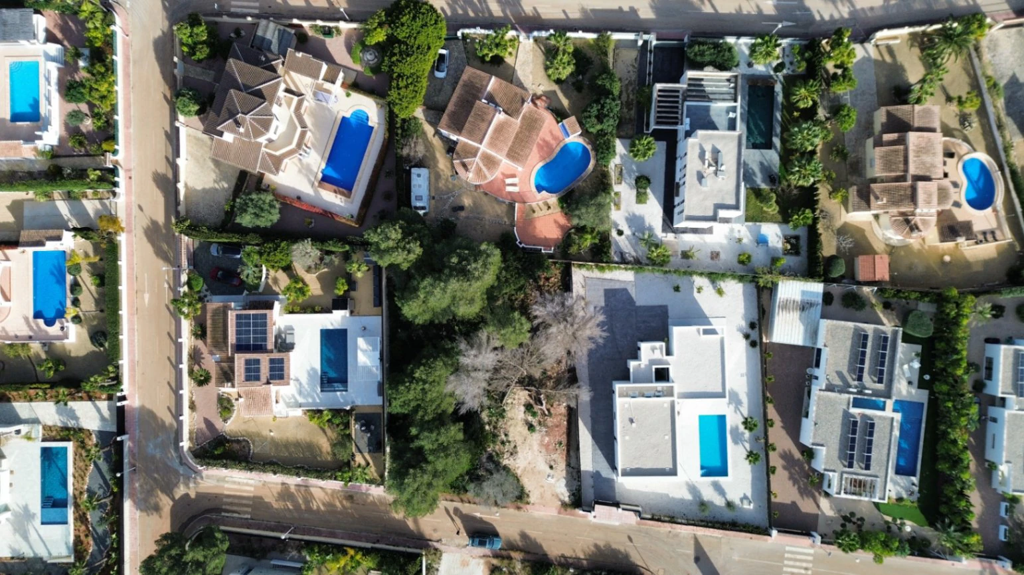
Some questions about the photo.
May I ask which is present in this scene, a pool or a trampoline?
pool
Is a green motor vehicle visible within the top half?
No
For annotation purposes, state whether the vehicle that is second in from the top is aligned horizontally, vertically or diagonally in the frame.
vertically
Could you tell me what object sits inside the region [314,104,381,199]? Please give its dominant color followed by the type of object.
blue swimming pool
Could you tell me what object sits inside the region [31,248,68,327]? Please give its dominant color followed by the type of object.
blue swimming pool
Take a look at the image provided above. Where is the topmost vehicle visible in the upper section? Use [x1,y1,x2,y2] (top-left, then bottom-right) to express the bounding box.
[433,47,449,79]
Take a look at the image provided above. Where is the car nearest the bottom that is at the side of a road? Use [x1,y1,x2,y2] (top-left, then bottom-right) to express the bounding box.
[467,532,502,552]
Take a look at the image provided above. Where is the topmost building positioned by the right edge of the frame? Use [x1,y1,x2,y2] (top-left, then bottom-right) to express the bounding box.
[841,105,975,244]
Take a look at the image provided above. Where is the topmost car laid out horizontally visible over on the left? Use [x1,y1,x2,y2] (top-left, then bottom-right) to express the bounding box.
[210,242,243,259]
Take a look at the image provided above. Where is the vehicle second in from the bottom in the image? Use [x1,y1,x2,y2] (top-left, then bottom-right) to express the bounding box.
[210,266,242,287]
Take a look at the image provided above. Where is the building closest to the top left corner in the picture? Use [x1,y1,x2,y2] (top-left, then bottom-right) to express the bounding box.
[0,9,61,51]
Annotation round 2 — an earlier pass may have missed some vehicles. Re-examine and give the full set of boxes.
[409,165,429,213]
[210,242,243,259]
[210,266,242,287]
[433,47,449,79]
[467,532,502,552]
